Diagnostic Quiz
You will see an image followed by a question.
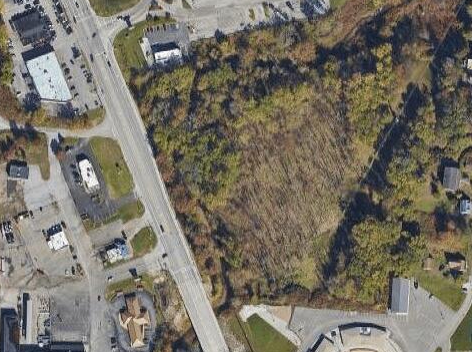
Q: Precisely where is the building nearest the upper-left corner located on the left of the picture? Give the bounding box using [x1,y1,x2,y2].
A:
[15,10,52,45]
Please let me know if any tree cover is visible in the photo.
Yes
